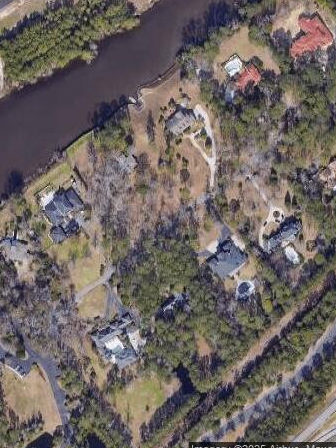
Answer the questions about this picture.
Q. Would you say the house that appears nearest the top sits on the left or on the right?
right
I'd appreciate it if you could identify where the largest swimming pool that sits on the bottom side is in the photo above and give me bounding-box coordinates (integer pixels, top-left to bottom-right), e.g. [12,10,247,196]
[236,279,253,296]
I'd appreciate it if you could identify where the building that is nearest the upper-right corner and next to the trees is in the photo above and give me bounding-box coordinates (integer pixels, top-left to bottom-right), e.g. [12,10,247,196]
[288,10,333,62]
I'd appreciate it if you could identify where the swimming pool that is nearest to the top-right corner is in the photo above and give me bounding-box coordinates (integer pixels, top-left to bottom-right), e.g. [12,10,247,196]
[223,57,243,75]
